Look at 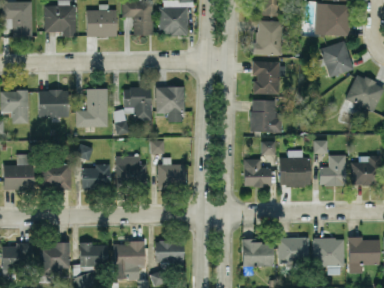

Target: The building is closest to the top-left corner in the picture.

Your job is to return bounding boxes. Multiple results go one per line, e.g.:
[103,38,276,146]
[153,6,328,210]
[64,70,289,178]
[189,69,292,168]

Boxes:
[5,1,32,36]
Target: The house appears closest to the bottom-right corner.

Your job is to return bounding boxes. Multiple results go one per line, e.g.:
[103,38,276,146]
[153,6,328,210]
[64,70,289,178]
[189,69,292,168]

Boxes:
[349,236,380,273]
